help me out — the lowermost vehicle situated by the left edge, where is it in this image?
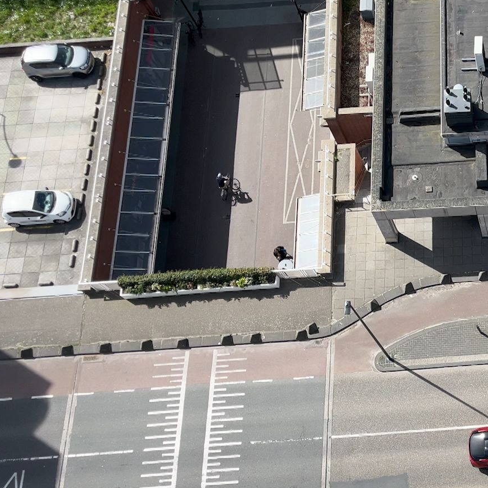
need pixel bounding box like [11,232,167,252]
[3,187,78,231]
